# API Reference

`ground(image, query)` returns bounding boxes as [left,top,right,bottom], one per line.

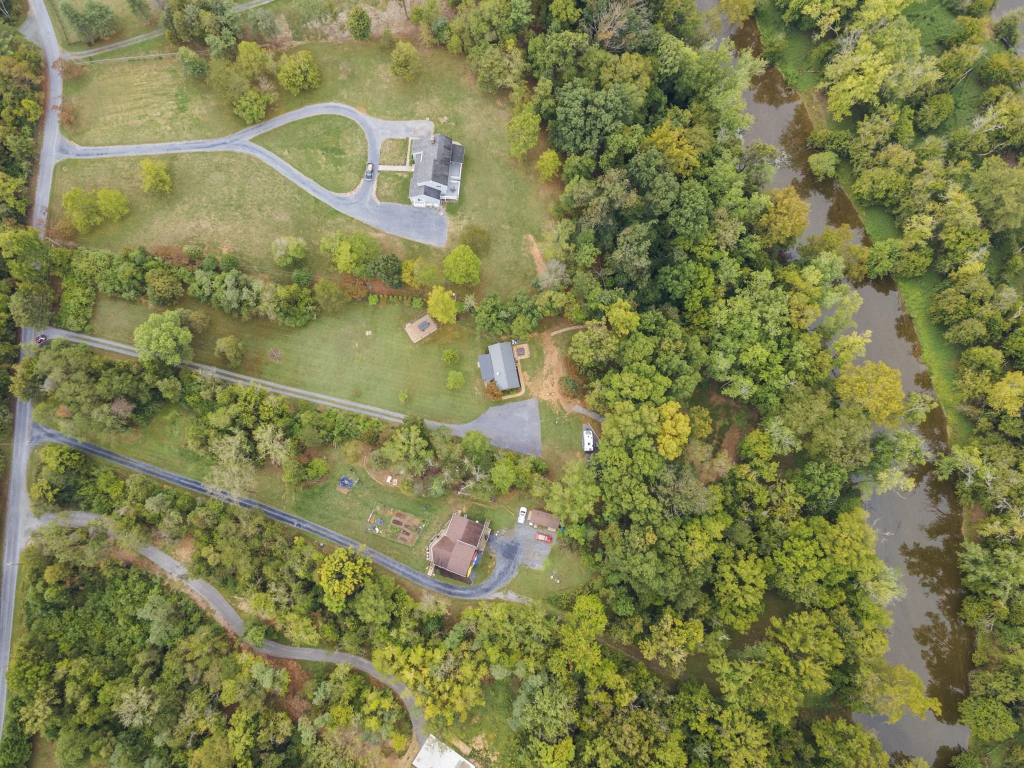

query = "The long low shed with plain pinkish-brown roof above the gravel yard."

[526,509,560,533]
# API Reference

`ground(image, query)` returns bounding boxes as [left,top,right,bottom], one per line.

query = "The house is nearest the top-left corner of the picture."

[407,133,465,208]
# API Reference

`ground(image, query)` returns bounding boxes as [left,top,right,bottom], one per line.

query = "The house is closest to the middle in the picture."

[478,342,520,392]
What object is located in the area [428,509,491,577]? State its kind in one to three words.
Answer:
house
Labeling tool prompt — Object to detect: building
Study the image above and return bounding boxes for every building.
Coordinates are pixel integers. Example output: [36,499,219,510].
[411,732,475,768]
[428,509,491,577]
[526,509,560,533]
[478,342,520,392]
[407,133,465,208]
